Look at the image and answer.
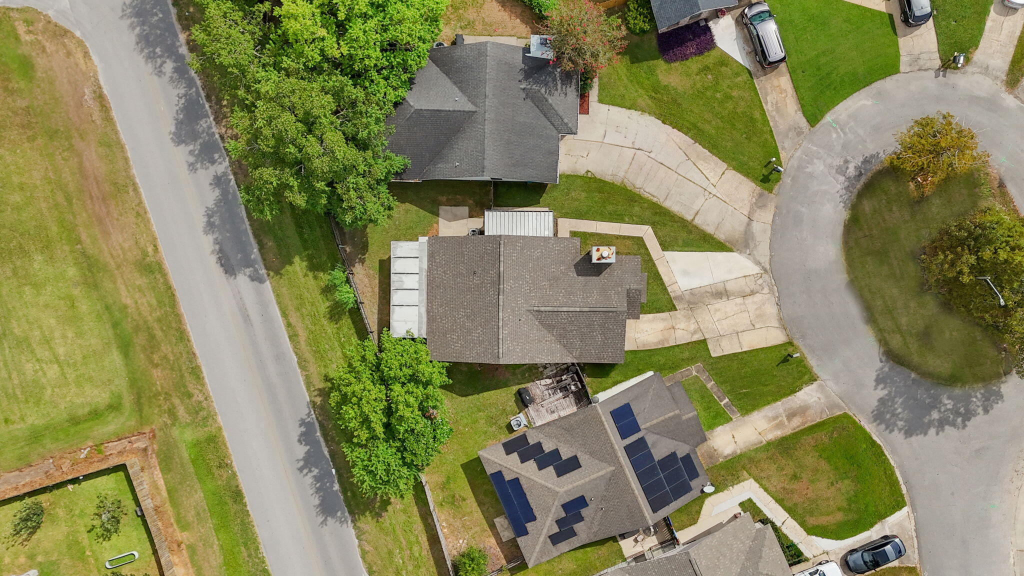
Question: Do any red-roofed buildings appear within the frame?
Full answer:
No, I find no red-roofed building anywhere in the image.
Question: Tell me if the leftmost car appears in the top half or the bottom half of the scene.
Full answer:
The top half of the photo is where the leftmost car is.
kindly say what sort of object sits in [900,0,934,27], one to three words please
car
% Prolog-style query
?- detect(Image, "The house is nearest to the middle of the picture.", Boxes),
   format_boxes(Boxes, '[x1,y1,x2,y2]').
[427,235,647,364]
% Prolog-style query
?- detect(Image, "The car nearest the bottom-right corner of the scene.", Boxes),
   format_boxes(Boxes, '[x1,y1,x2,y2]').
[844,538,911,576]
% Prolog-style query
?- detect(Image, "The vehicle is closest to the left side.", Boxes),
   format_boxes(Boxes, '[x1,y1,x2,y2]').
[746,2,787,73]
